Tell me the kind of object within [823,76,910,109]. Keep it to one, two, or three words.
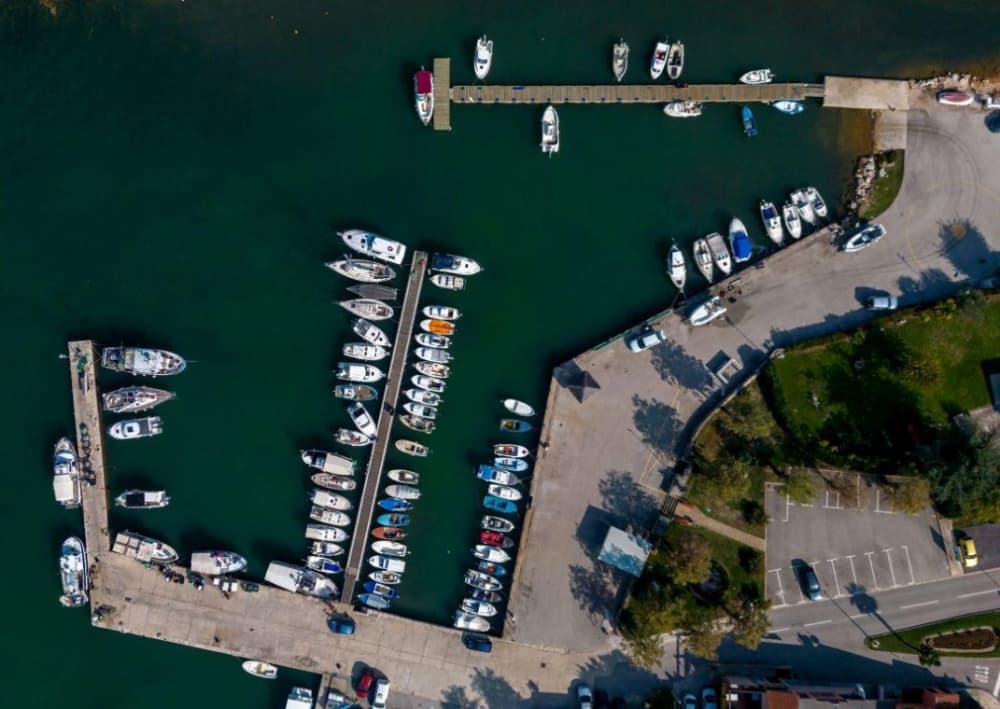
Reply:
pier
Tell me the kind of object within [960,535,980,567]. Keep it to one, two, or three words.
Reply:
car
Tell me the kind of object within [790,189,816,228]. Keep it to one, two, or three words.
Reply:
boat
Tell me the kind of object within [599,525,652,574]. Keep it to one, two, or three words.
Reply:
building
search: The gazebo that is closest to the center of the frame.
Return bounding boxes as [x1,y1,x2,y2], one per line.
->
[568,371,600,402]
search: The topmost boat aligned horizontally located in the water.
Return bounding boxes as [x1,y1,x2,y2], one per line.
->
[739,70,775,85]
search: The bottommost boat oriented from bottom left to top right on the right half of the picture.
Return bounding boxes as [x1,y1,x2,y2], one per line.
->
[690,298,727,326]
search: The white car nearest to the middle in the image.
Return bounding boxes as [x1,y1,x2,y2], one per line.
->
[628,329,667,354]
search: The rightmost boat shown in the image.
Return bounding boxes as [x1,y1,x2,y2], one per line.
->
[938,90,975,105]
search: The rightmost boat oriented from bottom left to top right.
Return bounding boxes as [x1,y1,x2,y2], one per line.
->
[845,221,888,252]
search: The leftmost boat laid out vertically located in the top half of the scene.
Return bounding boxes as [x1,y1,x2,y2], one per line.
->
[412,66,434,125]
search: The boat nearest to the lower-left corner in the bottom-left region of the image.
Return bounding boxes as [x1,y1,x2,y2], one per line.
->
[60,536,90,607]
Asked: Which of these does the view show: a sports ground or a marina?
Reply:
marina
